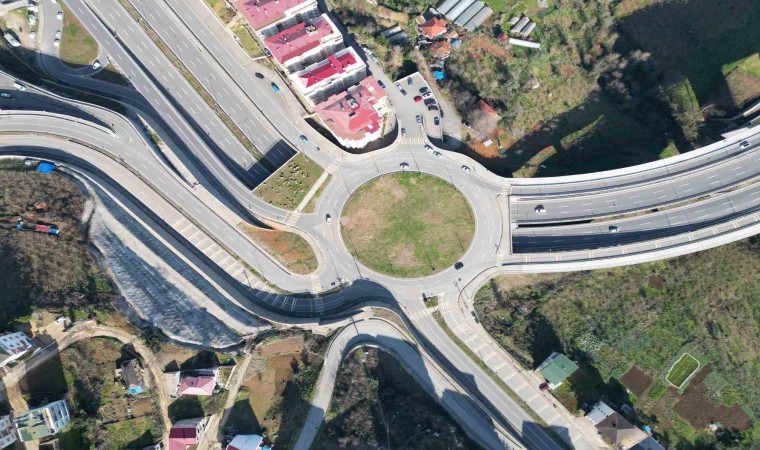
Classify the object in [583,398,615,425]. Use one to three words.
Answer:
shed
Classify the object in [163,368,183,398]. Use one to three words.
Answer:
building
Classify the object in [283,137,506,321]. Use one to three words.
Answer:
roundabout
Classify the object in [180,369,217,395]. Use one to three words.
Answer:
house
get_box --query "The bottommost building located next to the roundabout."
[315,76,393,148]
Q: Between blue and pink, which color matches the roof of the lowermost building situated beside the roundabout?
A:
pink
